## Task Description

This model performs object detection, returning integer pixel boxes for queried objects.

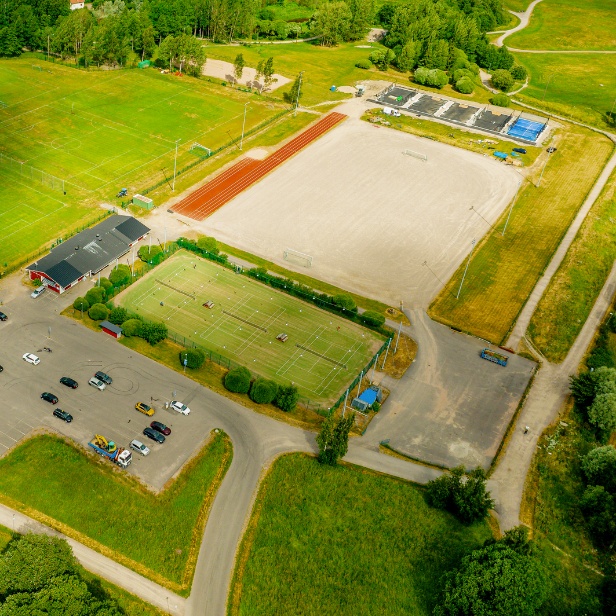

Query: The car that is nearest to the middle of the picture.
[169,399,191,414]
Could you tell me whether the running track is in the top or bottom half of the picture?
top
